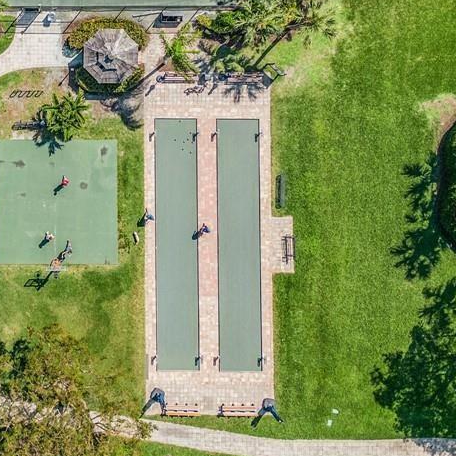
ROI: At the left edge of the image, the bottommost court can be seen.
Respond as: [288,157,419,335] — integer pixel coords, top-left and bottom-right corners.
[0,139,117,265]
